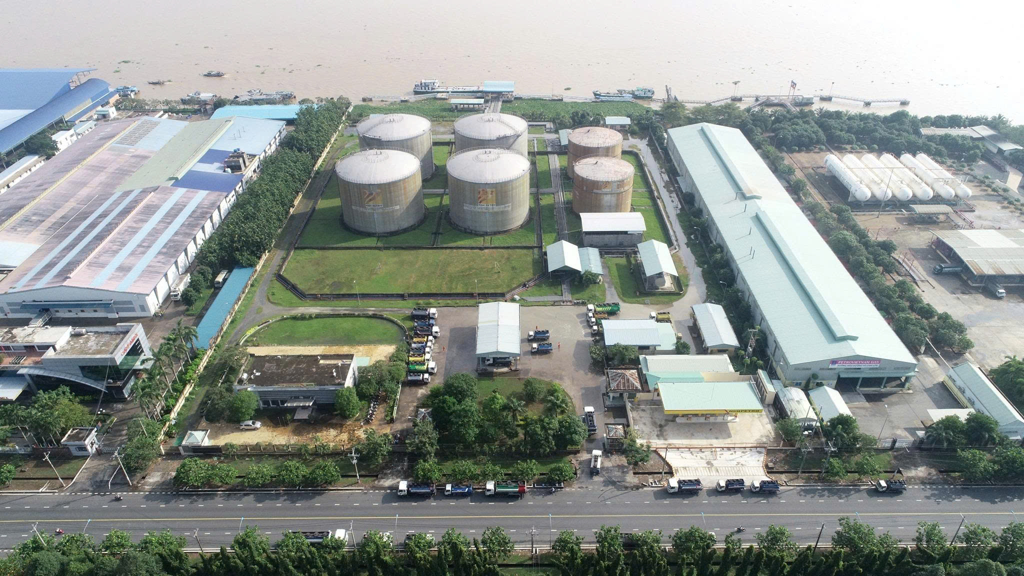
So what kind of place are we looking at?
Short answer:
industrial area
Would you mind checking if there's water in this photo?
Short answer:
Yes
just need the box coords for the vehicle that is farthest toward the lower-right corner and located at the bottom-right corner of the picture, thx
[875,477,910,492]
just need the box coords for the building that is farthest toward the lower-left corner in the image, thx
[60,427,98,455]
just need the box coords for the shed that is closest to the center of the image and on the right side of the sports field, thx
[546,242,582,283]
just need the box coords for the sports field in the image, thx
[285,249,542,295]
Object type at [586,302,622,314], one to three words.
vehicle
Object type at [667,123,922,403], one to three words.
warehouse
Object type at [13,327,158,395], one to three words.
building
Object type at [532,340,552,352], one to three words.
vehicle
